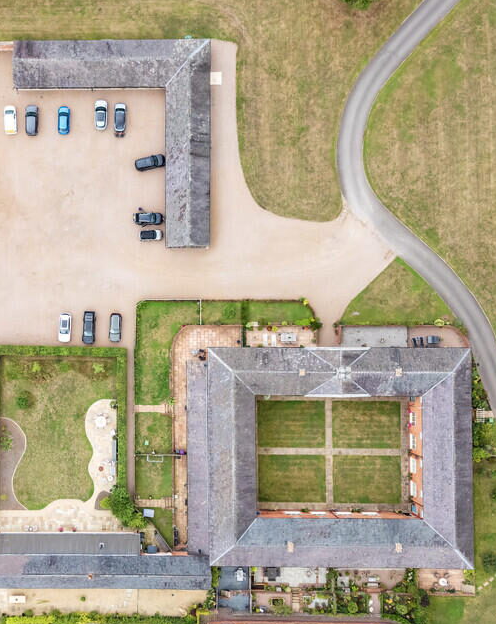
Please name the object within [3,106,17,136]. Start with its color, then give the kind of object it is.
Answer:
white car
